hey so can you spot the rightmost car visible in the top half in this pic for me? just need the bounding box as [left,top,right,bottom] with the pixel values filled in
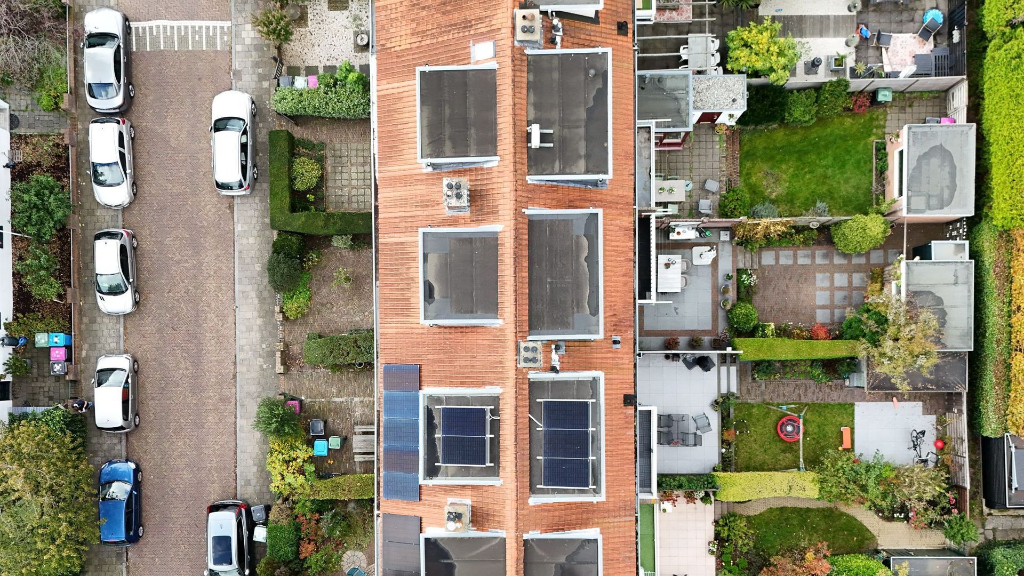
[206,87,261,195]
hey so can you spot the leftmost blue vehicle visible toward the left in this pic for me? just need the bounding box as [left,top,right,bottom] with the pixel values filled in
[92,460,146,552]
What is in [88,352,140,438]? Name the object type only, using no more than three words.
car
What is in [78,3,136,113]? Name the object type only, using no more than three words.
car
